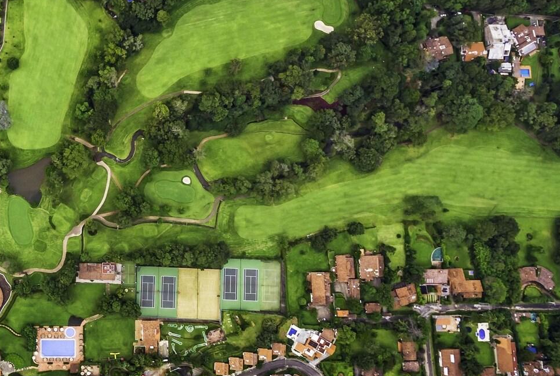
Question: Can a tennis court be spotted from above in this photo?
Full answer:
Yes, you can see a tennis court in this photo.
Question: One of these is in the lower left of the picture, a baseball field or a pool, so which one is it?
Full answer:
It is a pool that can be seen in the lower left of the picture.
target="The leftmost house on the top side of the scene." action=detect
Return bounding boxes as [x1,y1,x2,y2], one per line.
[423,36,454,60]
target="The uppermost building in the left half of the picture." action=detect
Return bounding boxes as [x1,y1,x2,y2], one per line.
[75,255,121,285]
